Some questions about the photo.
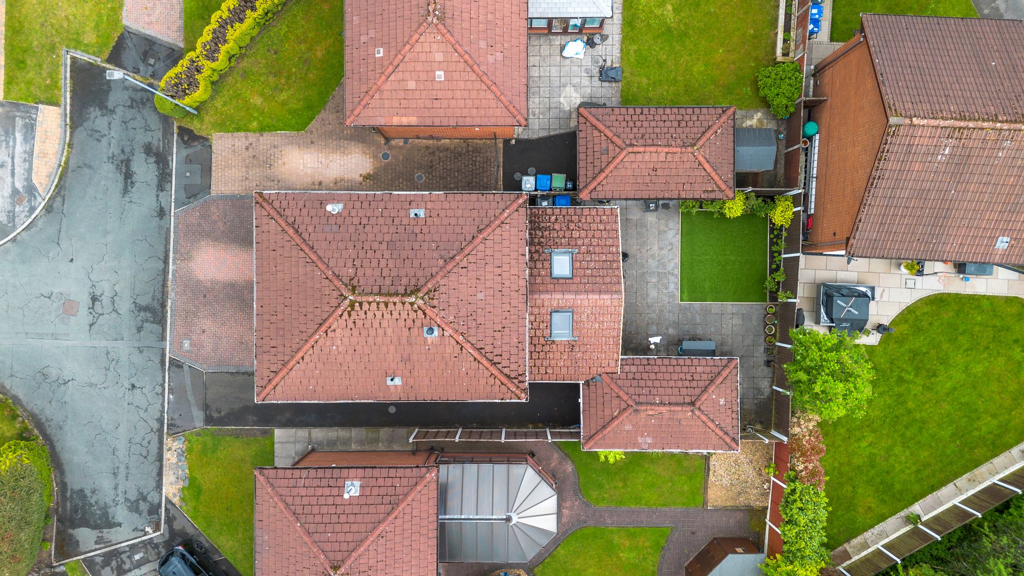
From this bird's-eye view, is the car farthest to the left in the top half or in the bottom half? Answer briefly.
bottom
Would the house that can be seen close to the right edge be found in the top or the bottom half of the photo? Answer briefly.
top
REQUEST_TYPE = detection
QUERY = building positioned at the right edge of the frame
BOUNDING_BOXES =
[802,13,1024,268]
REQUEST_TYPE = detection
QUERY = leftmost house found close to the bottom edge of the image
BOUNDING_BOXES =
[253,447,440,576]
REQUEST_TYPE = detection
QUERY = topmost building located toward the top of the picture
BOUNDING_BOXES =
[343,0,528,140]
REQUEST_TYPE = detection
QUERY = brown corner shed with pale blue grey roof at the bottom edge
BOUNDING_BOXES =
[685,537,766,576]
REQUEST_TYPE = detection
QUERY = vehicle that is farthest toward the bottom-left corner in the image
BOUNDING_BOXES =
[144,541,214,576]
